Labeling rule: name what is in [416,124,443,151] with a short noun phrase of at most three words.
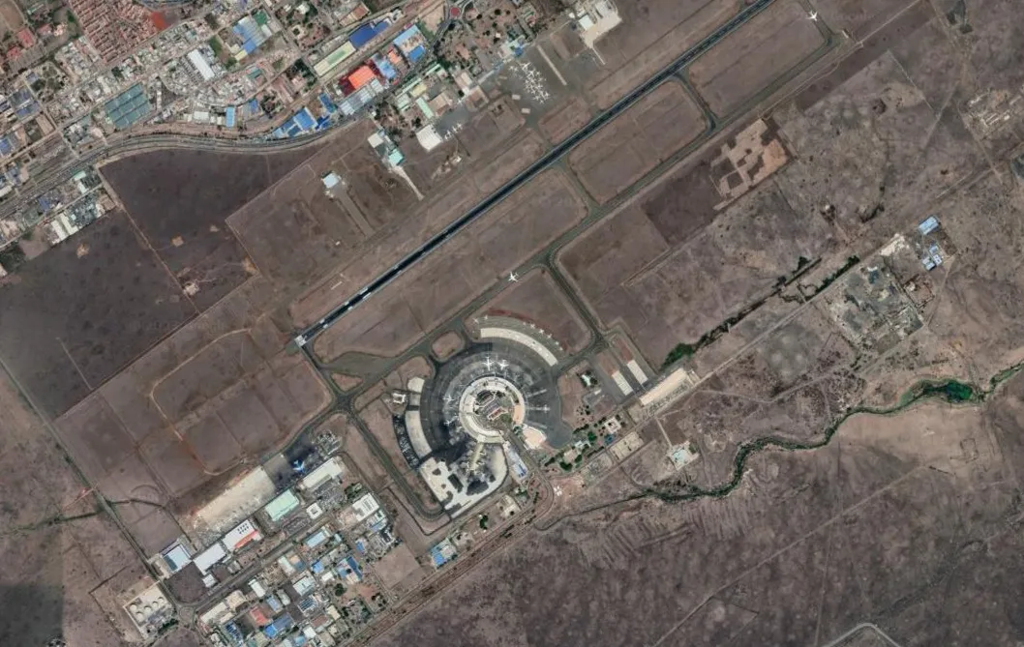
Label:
hangar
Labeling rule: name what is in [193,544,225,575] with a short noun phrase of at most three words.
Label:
building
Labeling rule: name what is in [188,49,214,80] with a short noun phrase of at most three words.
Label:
building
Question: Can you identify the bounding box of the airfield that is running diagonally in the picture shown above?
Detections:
[189,0,852,537]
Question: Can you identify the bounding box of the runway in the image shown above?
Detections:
[297,0,772,344]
